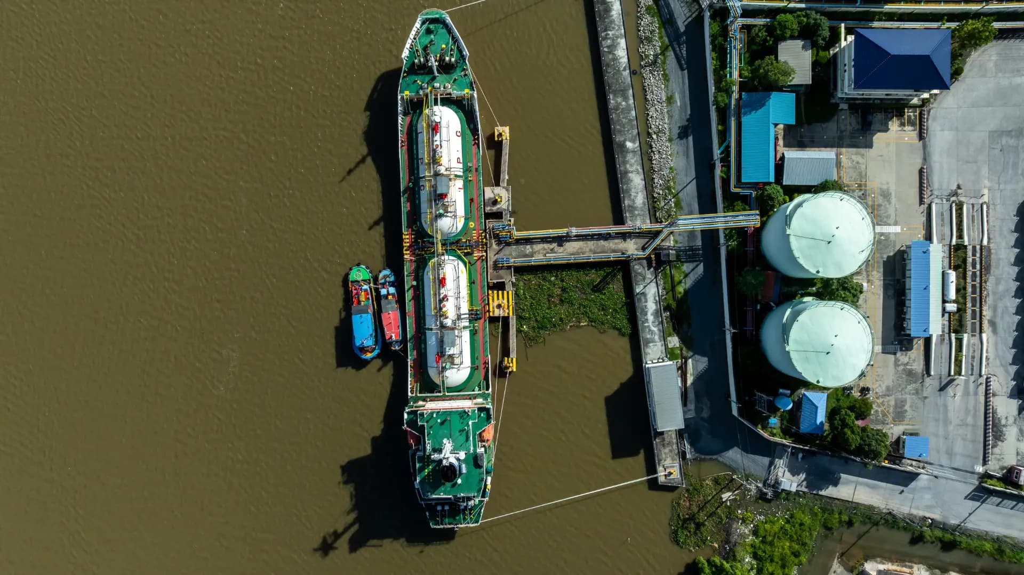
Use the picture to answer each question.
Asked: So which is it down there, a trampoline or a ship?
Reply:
ship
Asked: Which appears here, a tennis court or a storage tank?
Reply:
storage tank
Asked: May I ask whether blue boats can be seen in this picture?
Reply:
Yes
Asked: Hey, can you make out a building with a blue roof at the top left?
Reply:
No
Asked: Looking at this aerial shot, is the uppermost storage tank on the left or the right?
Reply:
right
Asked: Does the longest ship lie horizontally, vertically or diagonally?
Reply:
vertically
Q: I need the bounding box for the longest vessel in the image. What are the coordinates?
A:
[397,7,493,530]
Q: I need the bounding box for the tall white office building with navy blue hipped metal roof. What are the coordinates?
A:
[834,22,951,108]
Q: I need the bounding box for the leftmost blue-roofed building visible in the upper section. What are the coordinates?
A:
[739,92,795,182]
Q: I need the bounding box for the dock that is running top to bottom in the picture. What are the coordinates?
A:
[593,0,685,487]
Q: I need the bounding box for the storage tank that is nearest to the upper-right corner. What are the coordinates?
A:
[761,187,878,278]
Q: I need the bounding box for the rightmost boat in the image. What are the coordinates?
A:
[480,425,492,447]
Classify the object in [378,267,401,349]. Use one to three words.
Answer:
boat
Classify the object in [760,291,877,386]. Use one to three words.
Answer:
storage tank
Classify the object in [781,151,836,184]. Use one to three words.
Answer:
shed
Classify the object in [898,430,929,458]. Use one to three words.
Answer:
shed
